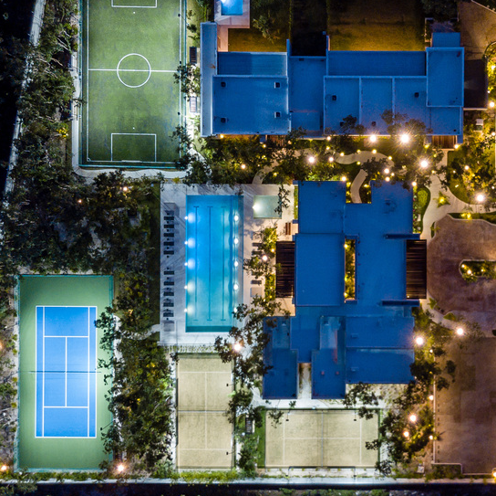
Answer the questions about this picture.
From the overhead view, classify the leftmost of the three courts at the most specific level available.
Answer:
tennis court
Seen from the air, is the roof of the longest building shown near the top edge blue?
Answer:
Yes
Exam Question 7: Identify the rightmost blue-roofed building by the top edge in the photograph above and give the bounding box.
[200,18,464,151]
